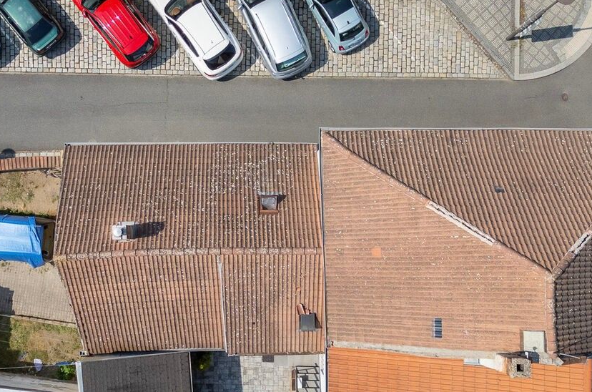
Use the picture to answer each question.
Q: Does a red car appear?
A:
Yes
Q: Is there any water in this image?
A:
No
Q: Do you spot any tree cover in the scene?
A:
No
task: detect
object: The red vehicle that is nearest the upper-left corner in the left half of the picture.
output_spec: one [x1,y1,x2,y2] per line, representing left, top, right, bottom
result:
[71,0,159,70]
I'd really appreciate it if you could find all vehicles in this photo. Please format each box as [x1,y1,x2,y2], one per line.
[0,0,65,58]
[302,0,371,55]
[71,0,159,70]
[231,0,313,80]
[149,0,244,80]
